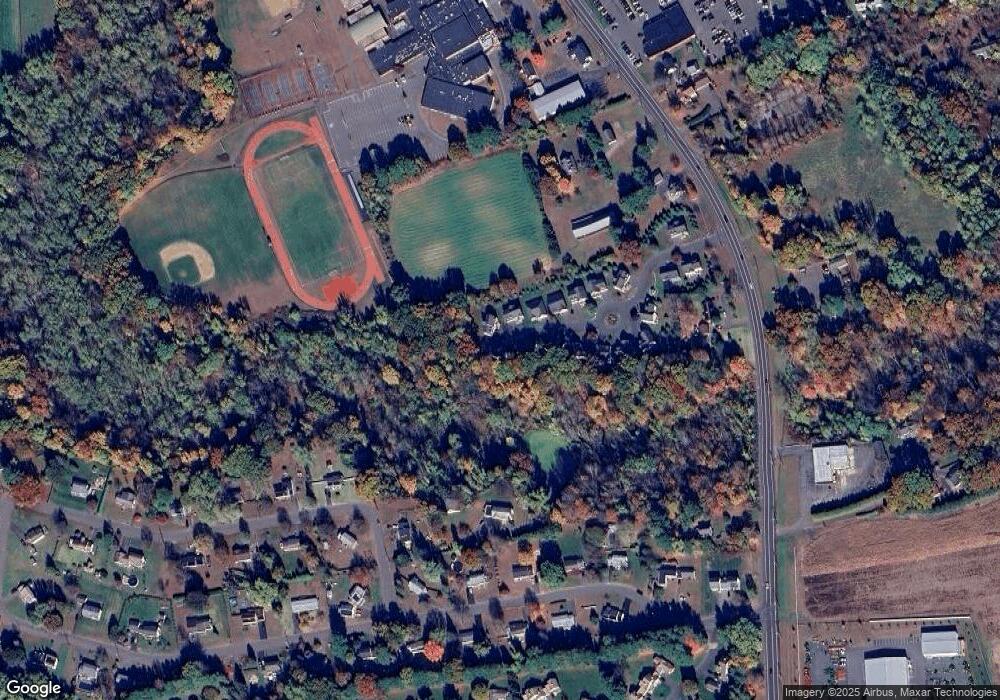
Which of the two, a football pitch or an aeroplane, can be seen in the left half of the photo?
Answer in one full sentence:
Looking in the left half of the photo, you will find a football pitch.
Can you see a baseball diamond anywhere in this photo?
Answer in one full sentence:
Yes, you can see a baseball diamond in this photo.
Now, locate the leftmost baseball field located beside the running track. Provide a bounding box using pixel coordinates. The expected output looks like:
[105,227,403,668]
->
[122,168,281,292]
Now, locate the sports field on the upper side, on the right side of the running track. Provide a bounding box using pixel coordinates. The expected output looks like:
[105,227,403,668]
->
[391,150,548,290]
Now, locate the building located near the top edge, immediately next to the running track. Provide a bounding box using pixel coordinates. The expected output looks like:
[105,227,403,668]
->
[343,0,499,120]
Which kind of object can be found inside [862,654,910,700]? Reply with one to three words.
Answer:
building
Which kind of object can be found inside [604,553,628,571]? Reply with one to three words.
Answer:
house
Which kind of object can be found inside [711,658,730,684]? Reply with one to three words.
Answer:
house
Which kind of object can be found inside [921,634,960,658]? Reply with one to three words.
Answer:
building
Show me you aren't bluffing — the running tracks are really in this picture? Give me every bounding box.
[247,114,383,307]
